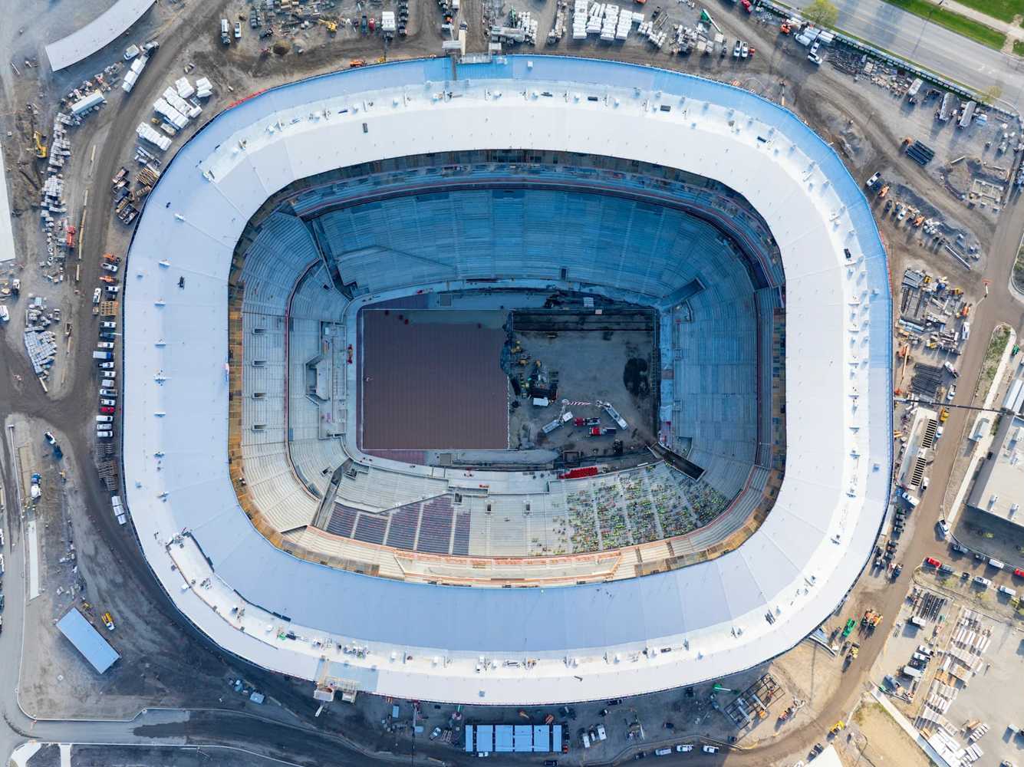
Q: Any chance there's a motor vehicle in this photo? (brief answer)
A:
Yes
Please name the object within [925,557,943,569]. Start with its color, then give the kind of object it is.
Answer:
red vehicle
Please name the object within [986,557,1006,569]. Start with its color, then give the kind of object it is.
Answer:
white vehicle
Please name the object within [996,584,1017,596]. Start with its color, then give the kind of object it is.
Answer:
white vehicle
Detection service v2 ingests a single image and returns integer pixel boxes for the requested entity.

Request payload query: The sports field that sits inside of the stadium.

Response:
[358,296,656,465]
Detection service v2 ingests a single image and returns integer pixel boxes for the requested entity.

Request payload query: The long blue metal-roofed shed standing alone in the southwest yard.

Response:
[56,604,127,673]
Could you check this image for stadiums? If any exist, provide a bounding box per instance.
[120,52,896,708]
